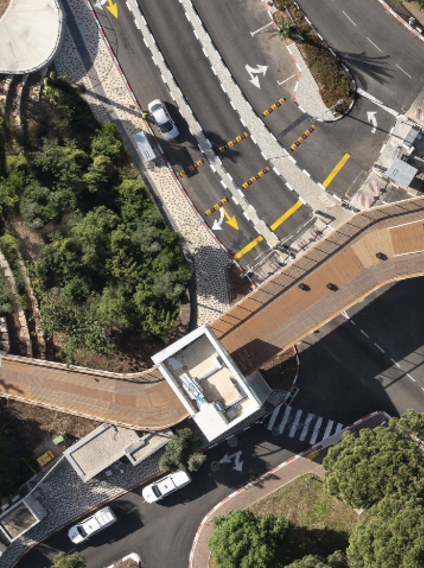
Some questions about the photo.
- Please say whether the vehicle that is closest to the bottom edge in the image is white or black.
white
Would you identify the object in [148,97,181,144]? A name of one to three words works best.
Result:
car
